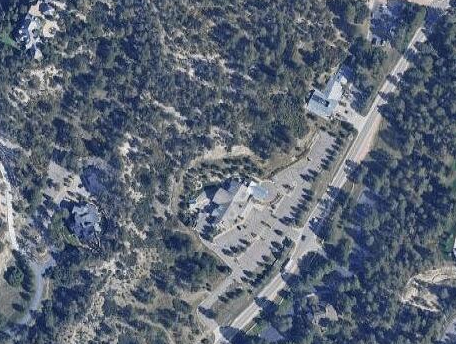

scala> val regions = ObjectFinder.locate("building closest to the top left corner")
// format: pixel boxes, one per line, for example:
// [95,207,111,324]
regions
[19,4,54,52]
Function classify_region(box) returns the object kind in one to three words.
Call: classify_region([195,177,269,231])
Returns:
building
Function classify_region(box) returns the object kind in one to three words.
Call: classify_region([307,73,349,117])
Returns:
building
